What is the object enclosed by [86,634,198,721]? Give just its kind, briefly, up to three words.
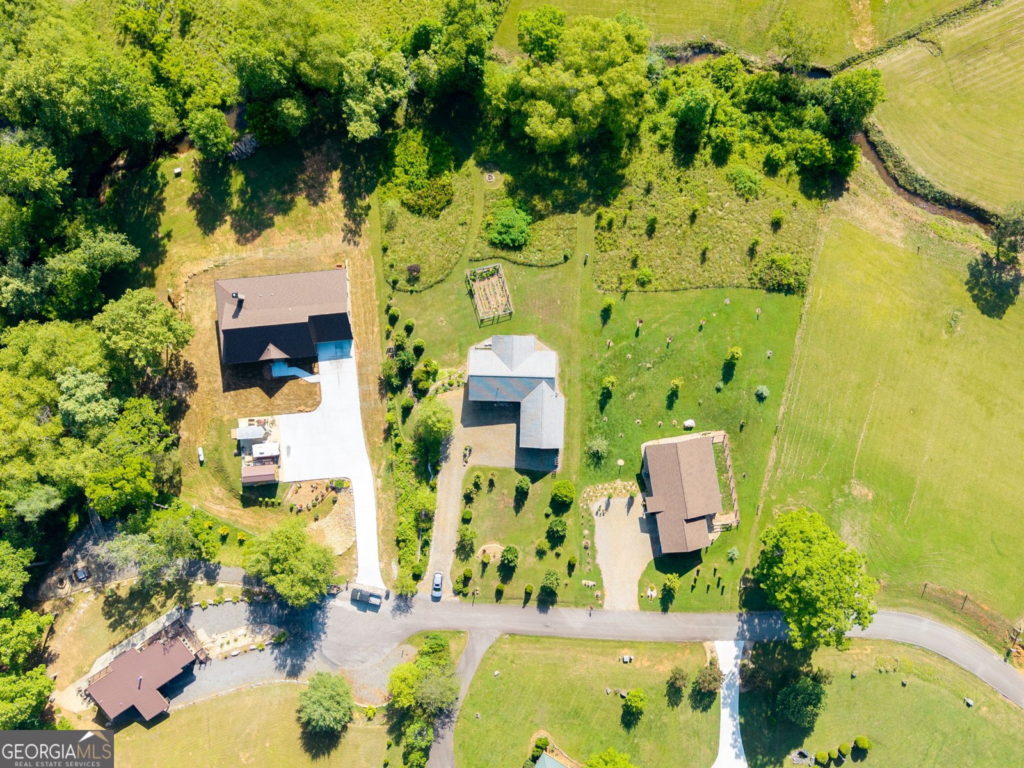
house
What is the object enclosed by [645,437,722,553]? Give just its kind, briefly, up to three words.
house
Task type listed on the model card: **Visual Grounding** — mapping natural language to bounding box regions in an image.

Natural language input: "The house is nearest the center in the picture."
[468,335,564,448]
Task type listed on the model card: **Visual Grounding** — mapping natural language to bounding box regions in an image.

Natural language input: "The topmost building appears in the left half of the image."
[215,269,353,363]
